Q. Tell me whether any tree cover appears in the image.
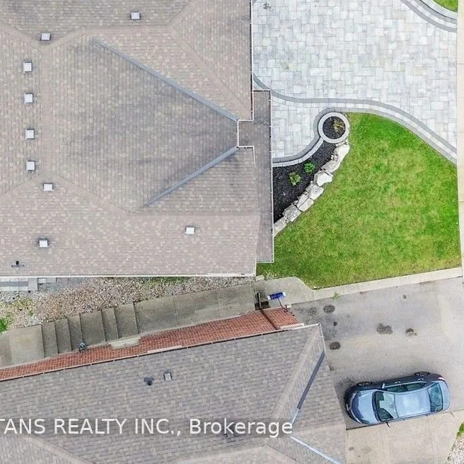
No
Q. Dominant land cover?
buildings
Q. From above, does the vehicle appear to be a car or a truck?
car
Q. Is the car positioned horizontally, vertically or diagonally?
horizontally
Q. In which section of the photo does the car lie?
bottom right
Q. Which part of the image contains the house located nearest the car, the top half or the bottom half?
bottom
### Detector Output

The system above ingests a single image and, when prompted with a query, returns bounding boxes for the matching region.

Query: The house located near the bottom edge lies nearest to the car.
[0,292,350,464]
